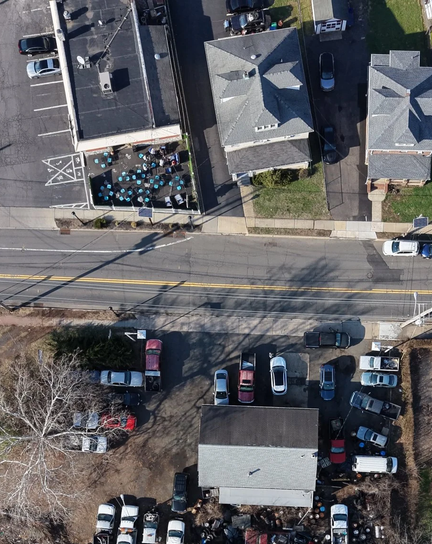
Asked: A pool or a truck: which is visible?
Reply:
truck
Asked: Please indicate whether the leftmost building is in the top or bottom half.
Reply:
top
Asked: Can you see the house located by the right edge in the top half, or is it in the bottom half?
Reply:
top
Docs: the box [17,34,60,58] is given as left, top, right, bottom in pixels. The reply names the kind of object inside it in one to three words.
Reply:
car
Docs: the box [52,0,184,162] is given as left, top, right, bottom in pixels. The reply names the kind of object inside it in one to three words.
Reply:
building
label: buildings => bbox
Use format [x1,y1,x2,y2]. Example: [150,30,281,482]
[365,50,432,191]
[52,0,184,162]
[310,0,345,41]
[198,405,318,508]
[204,27,314,186]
